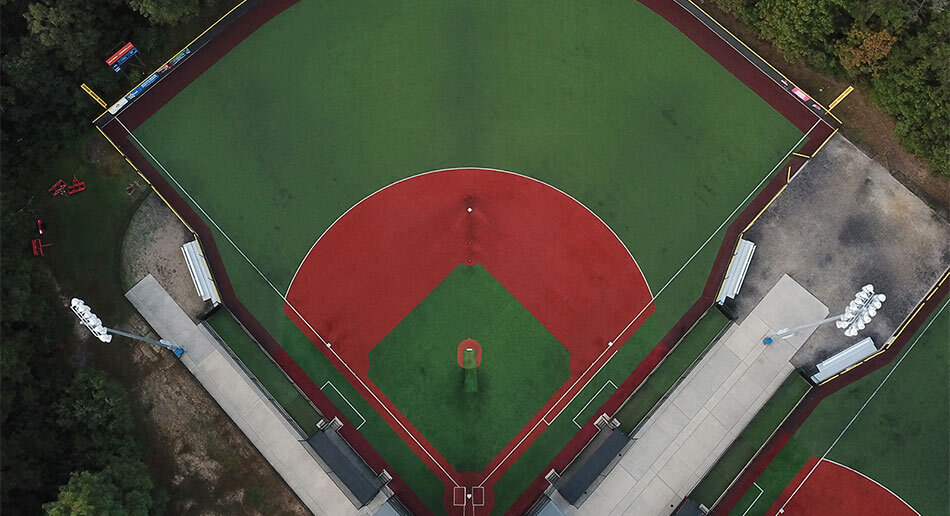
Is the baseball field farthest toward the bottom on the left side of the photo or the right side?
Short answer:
right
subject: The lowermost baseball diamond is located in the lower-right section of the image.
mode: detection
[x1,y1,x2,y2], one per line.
[707,273,950,516]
